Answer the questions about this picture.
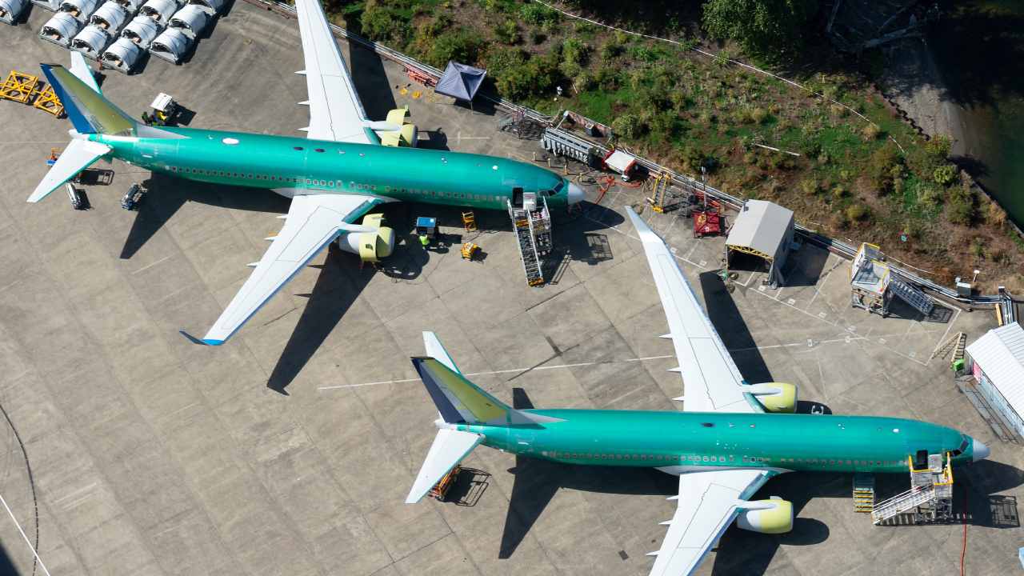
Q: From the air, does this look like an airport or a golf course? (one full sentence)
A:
This image shows an airport.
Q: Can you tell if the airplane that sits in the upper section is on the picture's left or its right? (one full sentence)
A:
The airplane that sits in the upper section sits on the left side.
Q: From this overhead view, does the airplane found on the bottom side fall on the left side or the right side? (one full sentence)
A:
It is on the right.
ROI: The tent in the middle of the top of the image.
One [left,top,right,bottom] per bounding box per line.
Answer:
[434,61,489,119]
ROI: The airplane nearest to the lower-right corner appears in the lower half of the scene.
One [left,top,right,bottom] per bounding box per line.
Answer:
[406,206,990,576]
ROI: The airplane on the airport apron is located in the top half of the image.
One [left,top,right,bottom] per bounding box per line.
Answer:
[28,0,584,349]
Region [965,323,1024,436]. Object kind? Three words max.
building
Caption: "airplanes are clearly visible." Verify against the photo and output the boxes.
[28,0,584,349]
[406,206,990,576]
